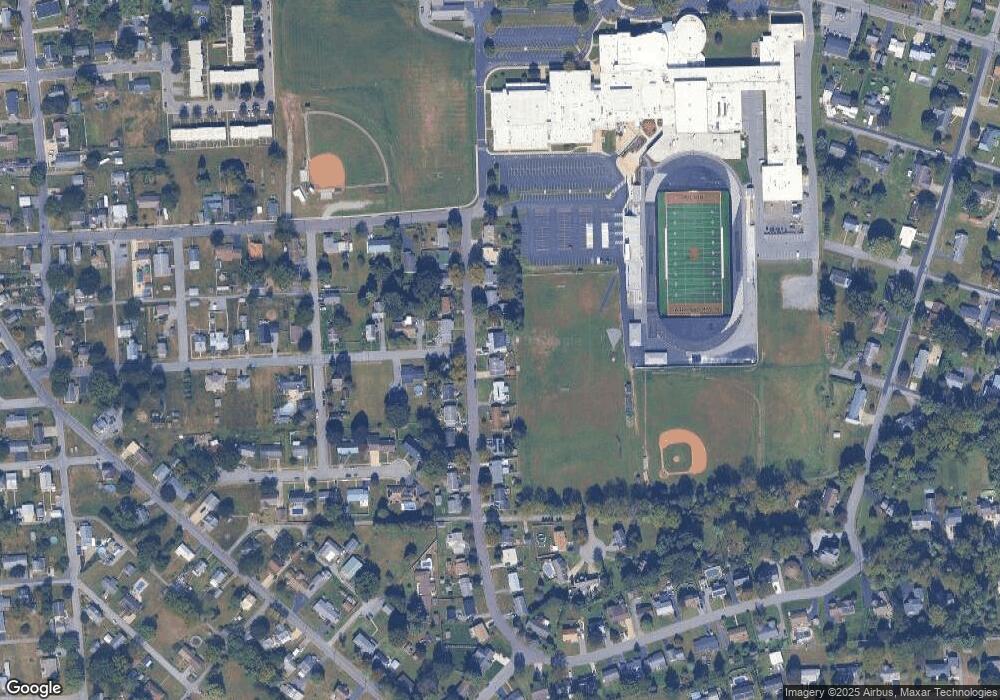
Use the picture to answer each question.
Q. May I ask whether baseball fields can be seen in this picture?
Yes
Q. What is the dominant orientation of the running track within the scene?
vertically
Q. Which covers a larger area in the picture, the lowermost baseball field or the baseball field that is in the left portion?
the baseball field that is in the left portion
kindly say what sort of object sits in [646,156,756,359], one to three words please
running track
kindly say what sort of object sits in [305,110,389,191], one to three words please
baseball field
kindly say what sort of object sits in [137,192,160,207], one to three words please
house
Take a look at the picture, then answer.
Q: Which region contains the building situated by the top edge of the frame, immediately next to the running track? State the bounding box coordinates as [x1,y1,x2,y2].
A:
[491,14,805,200]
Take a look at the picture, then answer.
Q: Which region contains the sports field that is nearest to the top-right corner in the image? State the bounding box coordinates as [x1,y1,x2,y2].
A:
[657,192,731,316]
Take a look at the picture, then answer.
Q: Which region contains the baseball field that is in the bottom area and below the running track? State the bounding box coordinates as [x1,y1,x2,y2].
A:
[659,429,707,477]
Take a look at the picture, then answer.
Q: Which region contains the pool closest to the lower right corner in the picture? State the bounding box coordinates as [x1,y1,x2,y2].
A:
[796,627,814,641]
